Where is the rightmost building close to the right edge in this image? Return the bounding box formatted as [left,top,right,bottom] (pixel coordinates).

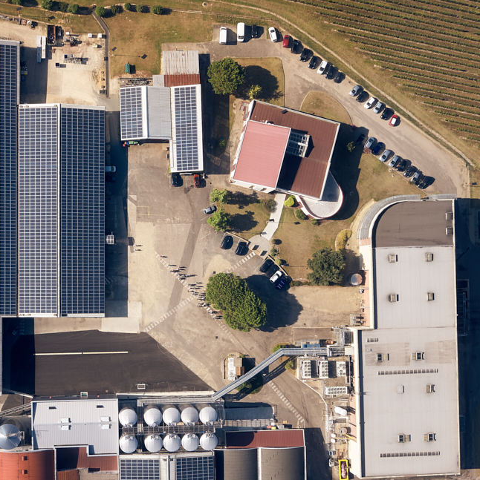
[345,194,466,480]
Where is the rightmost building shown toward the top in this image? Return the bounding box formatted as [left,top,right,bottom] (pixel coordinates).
[226,98,344,220]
